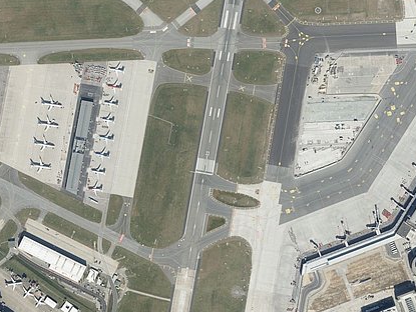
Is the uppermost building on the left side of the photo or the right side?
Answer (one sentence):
You can find the uppermost building on the left side of the picture.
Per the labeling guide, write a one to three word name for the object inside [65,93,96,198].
building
